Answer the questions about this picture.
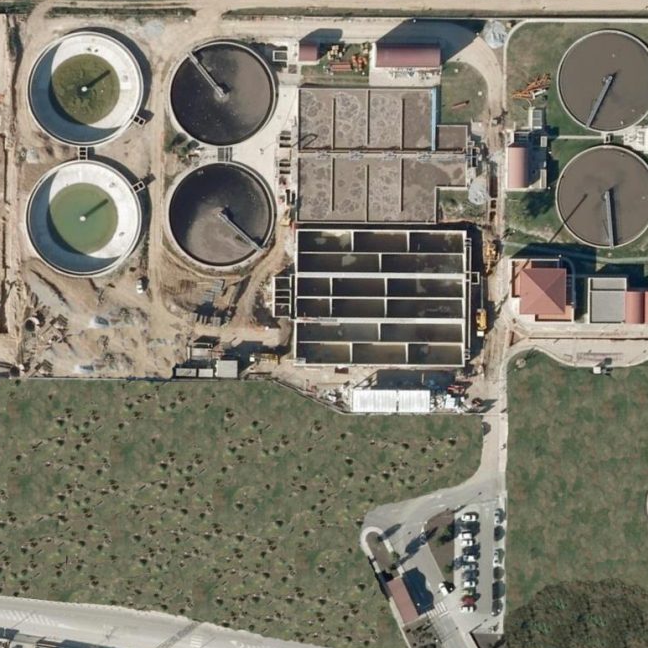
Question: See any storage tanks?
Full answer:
Yes, there's a storage tank down there.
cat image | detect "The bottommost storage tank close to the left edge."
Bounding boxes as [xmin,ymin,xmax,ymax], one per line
[26,161,142,276]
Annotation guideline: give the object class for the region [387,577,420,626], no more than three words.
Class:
building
